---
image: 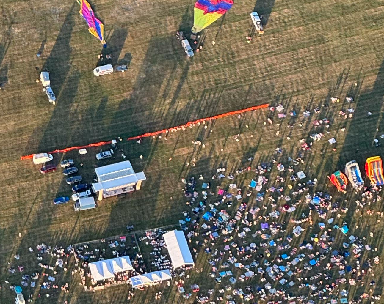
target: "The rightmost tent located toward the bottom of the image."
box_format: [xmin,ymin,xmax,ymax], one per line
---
[164,229,193,271]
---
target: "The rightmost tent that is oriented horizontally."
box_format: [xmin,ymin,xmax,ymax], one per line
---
[130,269,172,289]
